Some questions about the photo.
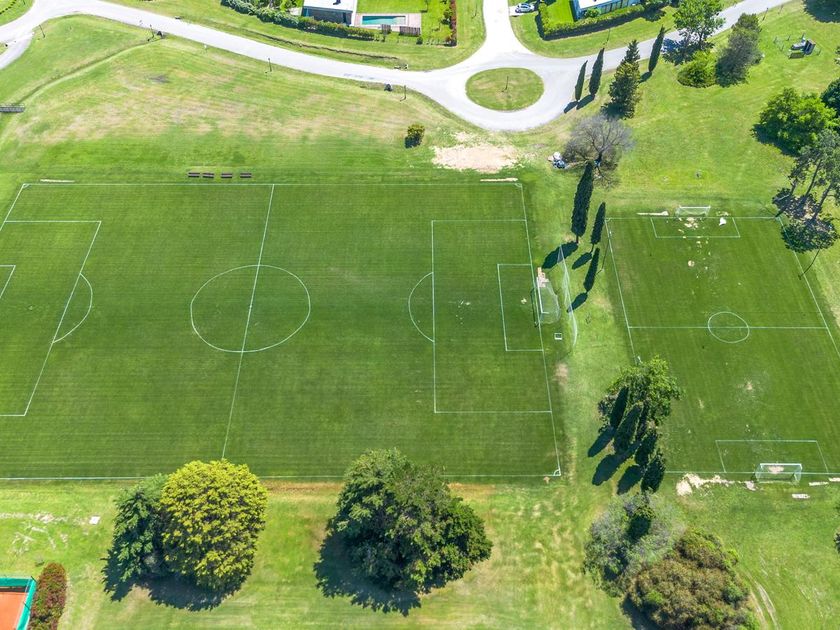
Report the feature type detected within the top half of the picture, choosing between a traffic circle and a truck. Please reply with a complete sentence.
Looking within the top half of the picture, you will find a traffic circle.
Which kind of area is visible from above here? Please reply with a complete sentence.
This image shows a sports ground.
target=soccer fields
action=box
[0,182,571,483]
[602,214,840,491]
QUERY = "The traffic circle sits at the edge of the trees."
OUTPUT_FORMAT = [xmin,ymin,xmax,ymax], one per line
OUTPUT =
[441,55,568,126]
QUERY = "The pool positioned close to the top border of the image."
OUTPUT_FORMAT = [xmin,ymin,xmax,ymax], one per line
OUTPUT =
[355,13,421,32]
